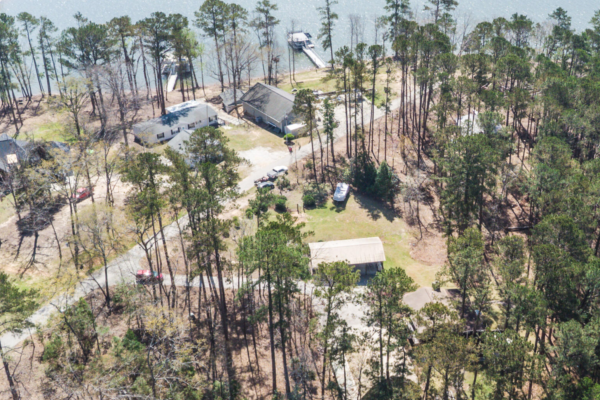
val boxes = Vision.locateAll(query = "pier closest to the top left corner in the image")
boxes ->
[162,49,190,88]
